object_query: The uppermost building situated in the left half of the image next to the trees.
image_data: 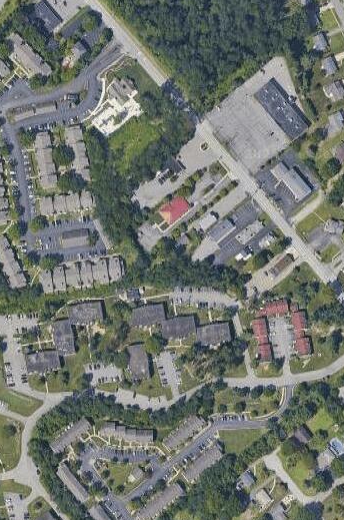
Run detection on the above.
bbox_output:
[34,0,63,30]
